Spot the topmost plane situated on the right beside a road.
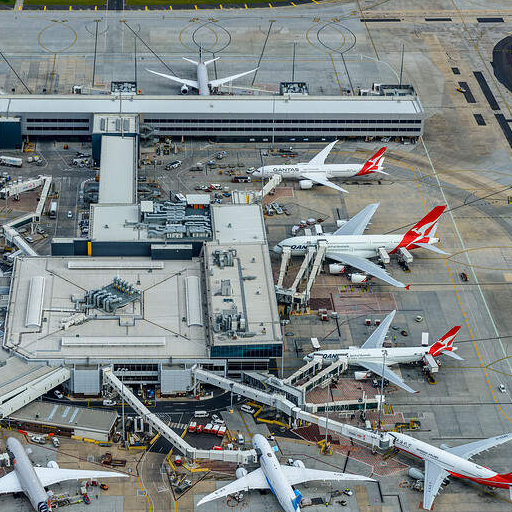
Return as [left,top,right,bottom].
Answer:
[252,139,392,191]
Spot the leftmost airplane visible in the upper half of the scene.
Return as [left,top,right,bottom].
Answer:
[146,38,258,94]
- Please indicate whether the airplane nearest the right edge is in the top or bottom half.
bottom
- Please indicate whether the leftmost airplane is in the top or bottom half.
bottom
